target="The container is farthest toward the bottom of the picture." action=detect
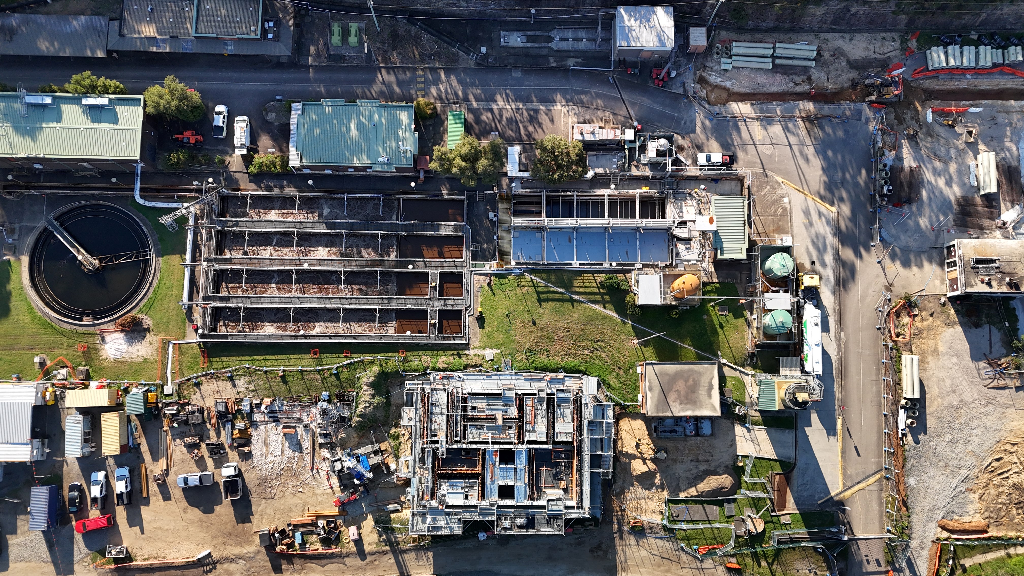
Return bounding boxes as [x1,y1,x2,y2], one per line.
[29,484,59,531]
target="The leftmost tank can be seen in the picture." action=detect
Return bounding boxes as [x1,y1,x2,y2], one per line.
[26,200,162,332]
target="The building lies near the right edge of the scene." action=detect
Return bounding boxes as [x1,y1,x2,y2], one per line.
[933,239,1024,299]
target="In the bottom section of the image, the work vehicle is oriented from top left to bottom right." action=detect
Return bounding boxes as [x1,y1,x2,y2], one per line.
[635,438,666,461]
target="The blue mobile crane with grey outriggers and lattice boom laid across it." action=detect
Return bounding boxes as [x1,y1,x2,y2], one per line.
[326,429,388,491]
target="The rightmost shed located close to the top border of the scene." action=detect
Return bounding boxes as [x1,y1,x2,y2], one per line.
[685,27,706,54]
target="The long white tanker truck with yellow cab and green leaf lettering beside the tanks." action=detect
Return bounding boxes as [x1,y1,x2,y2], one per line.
[797,267,822,374]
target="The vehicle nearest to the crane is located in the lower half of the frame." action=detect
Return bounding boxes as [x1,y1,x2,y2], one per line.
[332,486,365,510]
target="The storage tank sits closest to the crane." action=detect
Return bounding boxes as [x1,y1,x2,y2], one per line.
[199,188,492,343]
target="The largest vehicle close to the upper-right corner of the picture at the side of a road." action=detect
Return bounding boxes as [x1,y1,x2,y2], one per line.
[849,72,903,102]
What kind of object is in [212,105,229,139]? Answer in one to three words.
vehicle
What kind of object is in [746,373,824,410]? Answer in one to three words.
silo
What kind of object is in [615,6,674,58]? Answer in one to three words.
shed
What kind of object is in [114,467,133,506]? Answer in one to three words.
vehicle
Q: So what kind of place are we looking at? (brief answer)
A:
industrial area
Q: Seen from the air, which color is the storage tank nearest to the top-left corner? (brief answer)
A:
black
